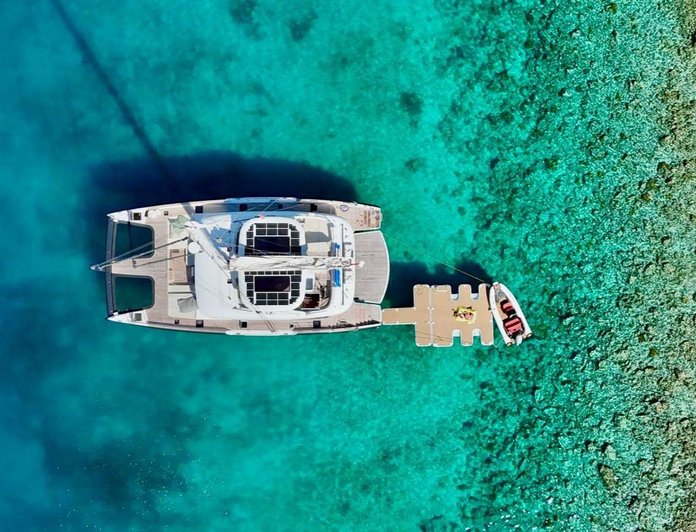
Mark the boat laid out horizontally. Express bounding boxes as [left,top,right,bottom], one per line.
[92,196,389,335]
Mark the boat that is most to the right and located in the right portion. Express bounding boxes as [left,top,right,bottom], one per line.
[490,282,534,349]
